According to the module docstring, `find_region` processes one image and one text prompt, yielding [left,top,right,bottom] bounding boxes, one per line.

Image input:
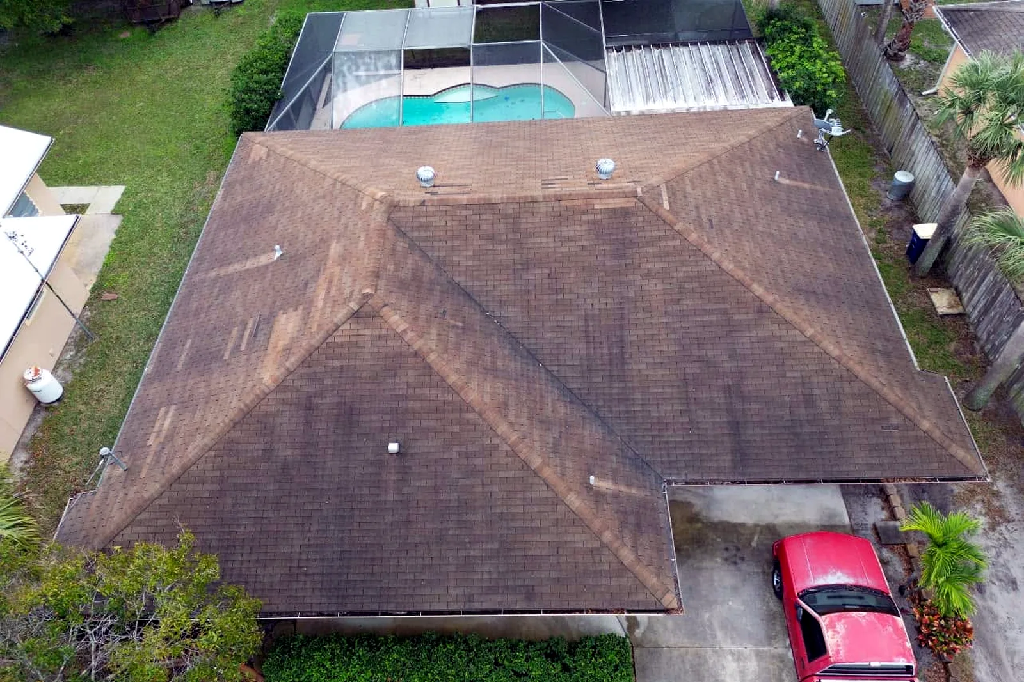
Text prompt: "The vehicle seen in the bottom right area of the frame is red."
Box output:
[767,534,915,682]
